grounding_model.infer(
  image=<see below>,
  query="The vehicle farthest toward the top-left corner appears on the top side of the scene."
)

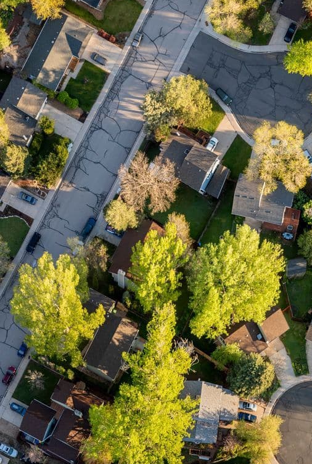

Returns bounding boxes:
[88,51,109,66]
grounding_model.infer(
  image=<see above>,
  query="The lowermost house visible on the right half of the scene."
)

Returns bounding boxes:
[184,382,239,444]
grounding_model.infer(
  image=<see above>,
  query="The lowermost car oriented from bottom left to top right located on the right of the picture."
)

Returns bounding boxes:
[203,134,221,152]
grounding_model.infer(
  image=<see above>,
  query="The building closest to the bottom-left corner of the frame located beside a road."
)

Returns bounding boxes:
[20,380,106,464]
